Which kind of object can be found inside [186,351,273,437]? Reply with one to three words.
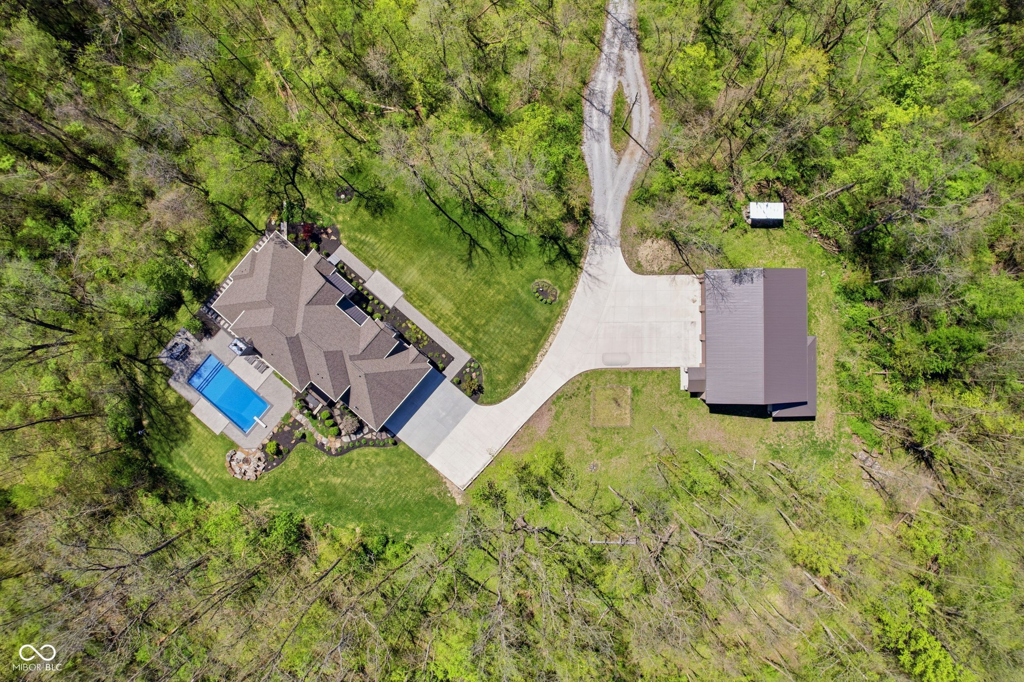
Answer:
swimming pool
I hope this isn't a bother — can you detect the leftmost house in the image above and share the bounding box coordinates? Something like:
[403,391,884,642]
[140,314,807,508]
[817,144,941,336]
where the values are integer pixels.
[210,230,433,432]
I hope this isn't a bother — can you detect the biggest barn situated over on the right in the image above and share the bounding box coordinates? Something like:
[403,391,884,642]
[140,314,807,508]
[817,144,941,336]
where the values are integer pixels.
[681,268,816,417]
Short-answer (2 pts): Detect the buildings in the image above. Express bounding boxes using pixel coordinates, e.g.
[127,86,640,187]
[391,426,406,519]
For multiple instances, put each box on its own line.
[210,230,433,432]
[743,203,784,221]
[681,268,816,417]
